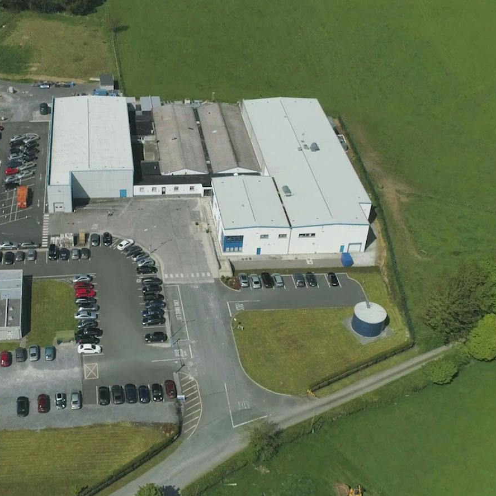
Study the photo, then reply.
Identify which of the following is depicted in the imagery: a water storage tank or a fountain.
water storage tank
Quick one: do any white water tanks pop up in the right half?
Yes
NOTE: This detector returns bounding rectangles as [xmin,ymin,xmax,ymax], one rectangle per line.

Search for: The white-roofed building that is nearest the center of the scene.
[211,175,289,255]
